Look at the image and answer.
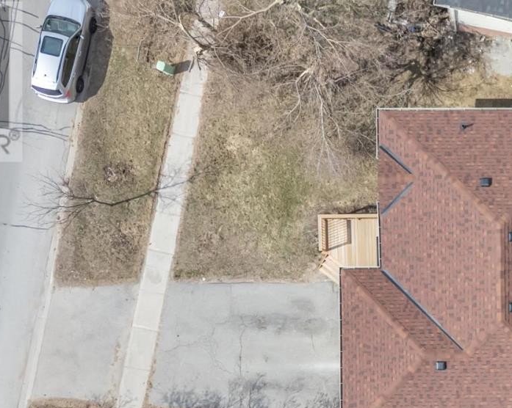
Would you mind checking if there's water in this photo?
No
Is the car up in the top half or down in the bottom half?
top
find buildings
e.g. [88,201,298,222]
[338,105,512,408]
[430,0,512,40]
